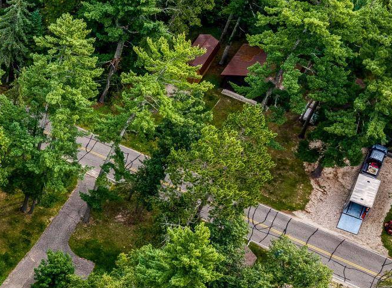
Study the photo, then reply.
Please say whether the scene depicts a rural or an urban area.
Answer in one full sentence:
From above, the setting appears rural.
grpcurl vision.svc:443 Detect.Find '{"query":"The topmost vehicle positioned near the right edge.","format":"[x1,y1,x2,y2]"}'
[357,144,386,177]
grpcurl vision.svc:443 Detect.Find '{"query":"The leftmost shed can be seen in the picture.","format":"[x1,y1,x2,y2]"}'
[179,32,219,79]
